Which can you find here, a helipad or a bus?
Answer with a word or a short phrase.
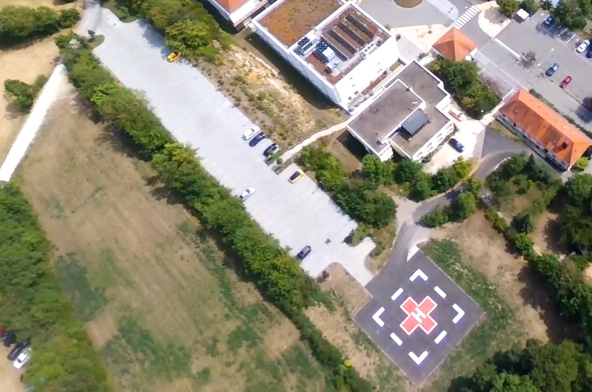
helipad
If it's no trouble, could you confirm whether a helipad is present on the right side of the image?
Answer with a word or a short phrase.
Yes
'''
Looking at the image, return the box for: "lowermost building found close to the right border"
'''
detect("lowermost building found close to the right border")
[499,88,592,173]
